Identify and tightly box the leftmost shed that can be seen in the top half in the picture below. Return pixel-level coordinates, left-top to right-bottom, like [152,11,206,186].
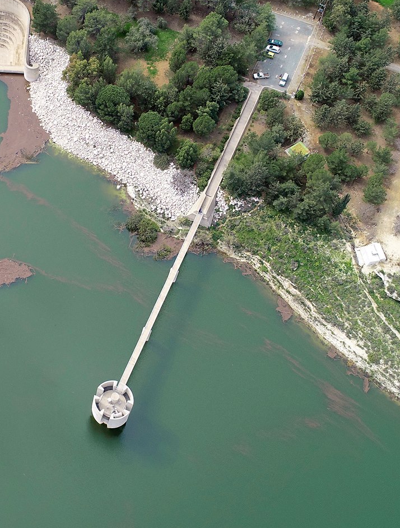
[285,141,310,165]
